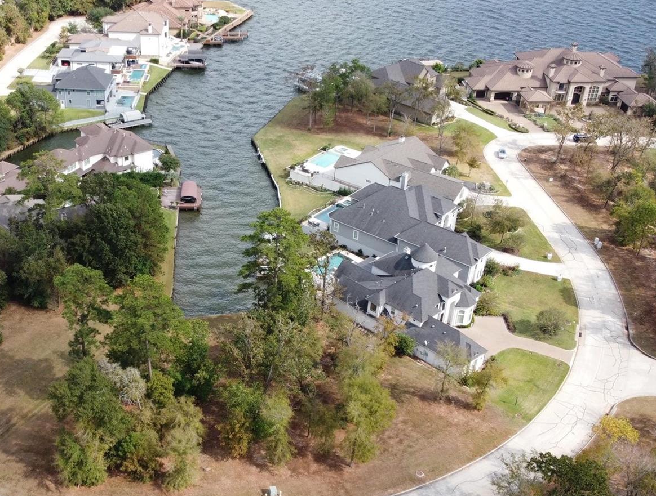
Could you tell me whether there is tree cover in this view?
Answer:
Yes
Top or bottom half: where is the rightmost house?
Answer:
top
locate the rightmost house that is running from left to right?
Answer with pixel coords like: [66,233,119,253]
[453,36,656,117]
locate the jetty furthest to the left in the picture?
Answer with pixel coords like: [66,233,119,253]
[108,113,152,132]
